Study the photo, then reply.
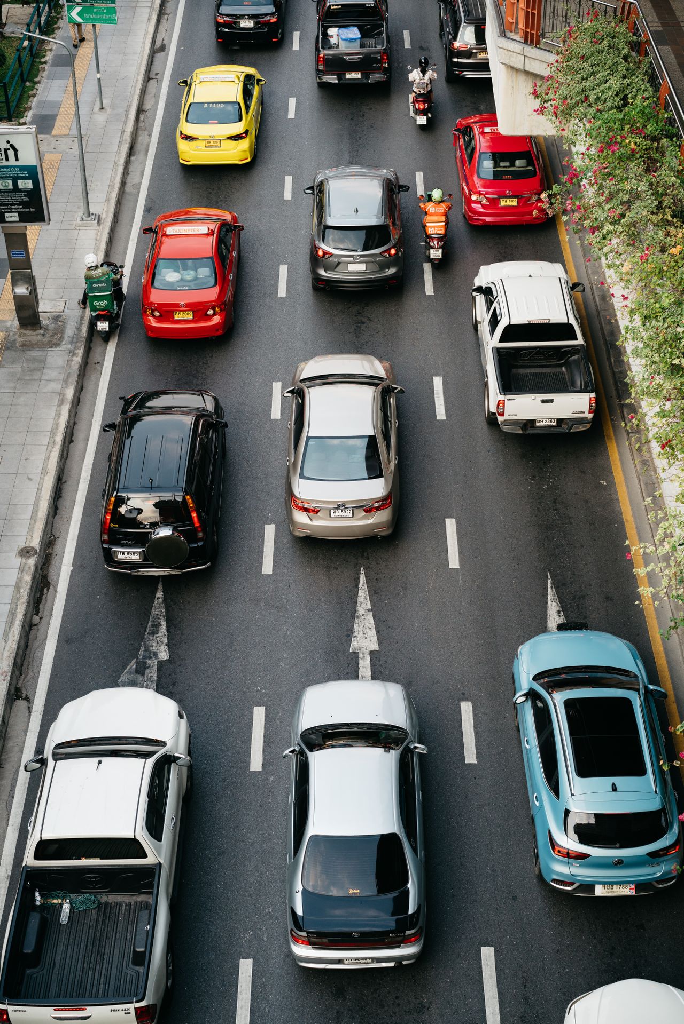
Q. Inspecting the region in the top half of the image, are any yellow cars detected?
Yes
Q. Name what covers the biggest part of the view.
paved ground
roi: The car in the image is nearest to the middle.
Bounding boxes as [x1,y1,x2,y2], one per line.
[283,357,405,538]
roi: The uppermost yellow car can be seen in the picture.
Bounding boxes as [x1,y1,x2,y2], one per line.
[175,67,263,165]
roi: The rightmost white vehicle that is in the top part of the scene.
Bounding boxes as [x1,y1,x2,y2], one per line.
[471,264,602,435]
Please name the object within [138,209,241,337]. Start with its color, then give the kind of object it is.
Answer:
red car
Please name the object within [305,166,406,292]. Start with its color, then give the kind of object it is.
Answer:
gray car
